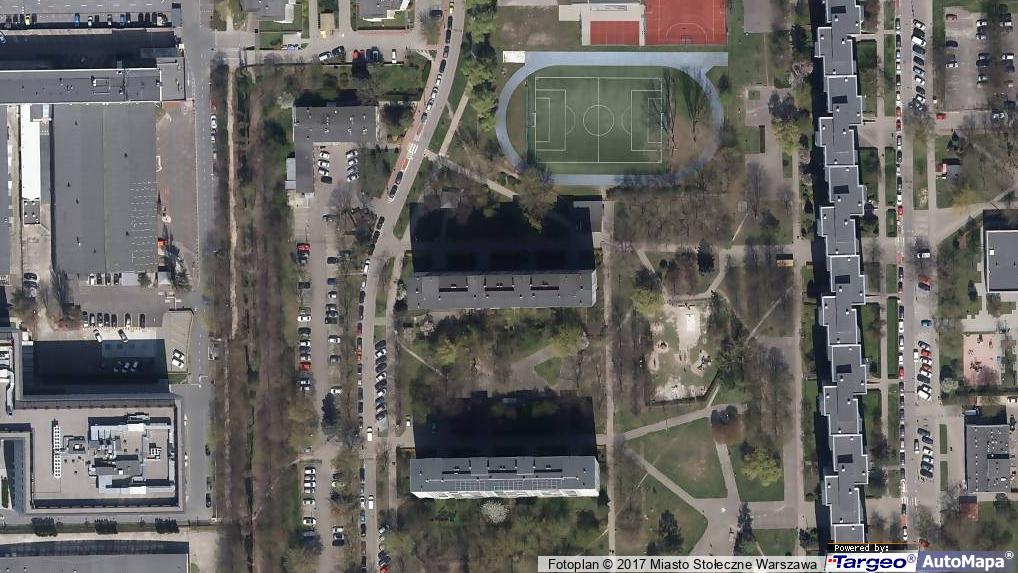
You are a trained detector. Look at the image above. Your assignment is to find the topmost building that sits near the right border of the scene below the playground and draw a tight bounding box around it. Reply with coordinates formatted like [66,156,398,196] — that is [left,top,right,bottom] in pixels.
[967,426,1010,494]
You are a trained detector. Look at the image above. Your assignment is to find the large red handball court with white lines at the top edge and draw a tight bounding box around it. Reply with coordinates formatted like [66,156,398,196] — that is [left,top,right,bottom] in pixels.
[645,0,727,45]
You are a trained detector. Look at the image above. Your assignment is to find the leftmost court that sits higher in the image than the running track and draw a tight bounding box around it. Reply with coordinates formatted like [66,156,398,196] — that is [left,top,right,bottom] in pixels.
[560,4,645,46]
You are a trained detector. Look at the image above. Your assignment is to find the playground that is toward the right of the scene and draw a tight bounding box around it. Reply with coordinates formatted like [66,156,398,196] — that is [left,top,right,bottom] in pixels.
[963,333,1002,387]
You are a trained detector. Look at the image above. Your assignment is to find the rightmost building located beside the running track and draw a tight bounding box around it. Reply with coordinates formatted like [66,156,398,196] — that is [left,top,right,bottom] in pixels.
[815,0,874,573]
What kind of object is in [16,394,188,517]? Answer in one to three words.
building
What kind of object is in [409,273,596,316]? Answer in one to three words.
building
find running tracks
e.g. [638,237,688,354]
[497,52,728,186]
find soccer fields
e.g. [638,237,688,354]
[527,66,667,173]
